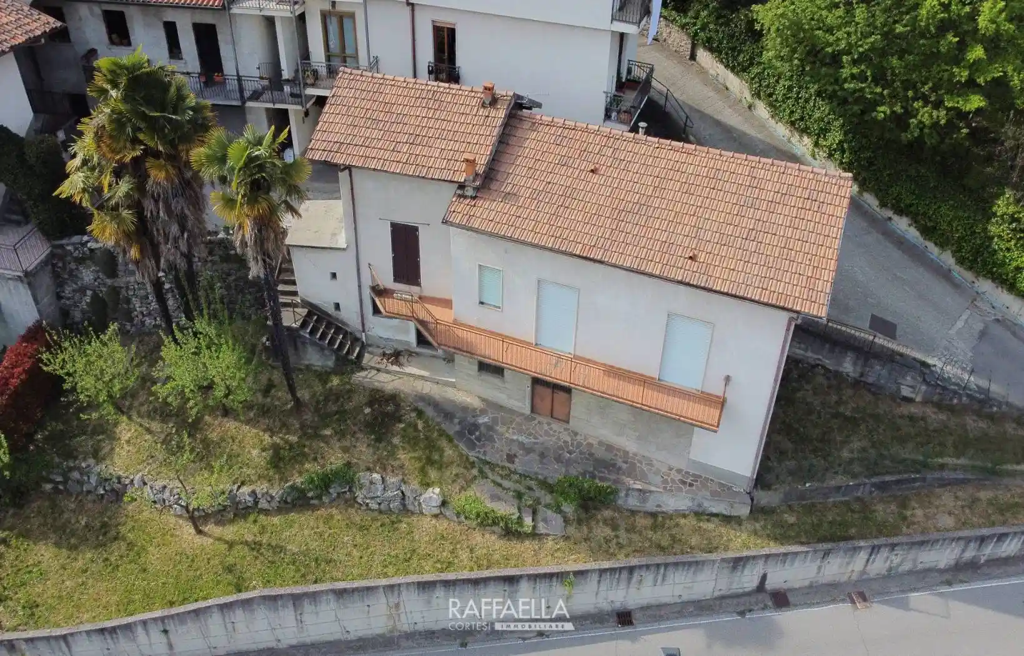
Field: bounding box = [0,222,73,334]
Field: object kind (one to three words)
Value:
building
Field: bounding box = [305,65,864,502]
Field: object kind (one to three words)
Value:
house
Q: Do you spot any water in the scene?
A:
No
